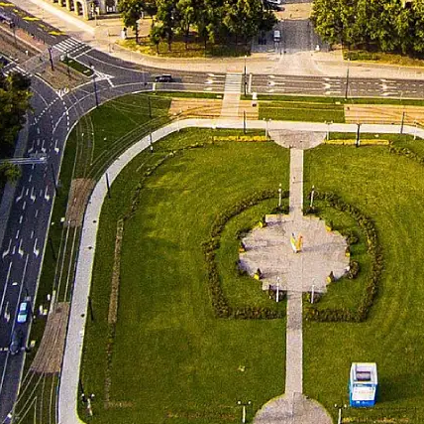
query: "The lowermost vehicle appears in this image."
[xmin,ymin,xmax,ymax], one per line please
[9,332,24,353]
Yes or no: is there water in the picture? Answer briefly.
No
